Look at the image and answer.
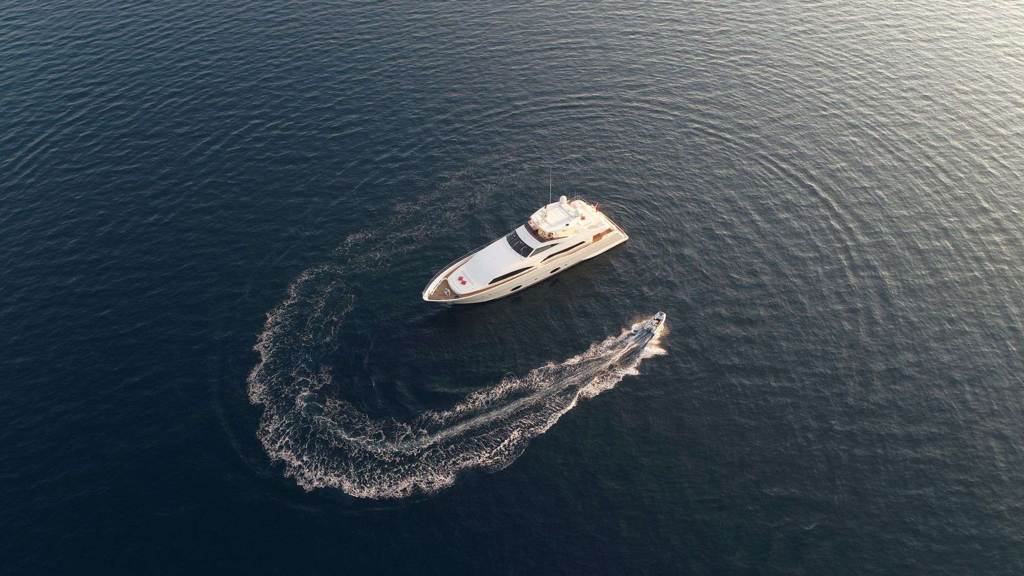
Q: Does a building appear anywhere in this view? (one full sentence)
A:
No, there's no building here.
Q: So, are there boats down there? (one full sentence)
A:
Yes, a boat can be made out from above.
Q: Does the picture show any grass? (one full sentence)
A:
No, grass can't be seen anywhere here.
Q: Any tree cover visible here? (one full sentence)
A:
No, there is no tree cover in the image.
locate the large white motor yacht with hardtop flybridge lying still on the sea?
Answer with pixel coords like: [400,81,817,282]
[422,179,628,305]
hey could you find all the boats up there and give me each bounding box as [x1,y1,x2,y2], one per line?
[642,310,666,336]
[422,179,628,305]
